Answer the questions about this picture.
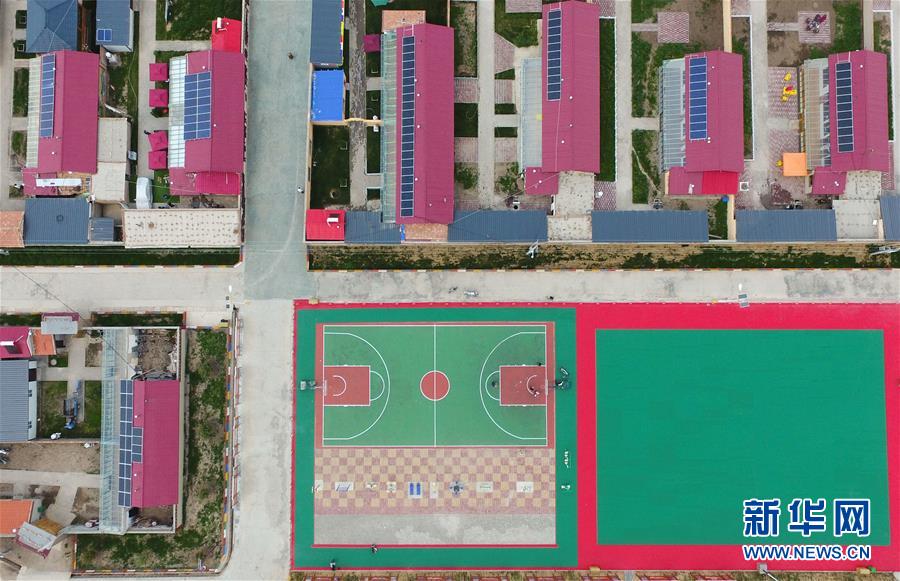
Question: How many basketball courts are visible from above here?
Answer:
1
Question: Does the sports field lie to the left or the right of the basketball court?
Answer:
on its right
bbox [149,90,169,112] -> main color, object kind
pink gazebo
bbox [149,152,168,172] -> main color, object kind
pink gazebo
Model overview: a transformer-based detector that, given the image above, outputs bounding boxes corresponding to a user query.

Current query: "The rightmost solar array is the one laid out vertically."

[835,55,854,154]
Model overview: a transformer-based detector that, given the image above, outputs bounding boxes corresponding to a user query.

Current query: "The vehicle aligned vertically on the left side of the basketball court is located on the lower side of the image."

[60,382,77,430]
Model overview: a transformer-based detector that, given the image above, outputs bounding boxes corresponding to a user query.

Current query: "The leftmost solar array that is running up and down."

[40,52,54,140]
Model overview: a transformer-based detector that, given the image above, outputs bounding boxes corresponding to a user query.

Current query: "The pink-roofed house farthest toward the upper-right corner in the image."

[793,48,889,184]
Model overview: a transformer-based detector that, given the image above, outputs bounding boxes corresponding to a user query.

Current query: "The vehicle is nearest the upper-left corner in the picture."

[135,178,153,208]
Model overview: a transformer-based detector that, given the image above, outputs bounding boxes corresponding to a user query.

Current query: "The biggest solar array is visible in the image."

[402,29,415,217]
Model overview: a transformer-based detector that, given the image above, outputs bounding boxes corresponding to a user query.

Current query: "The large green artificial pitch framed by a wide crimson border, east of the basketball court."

[577,305,900,572]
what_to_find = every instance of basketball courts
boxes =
[292,305,577,570]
